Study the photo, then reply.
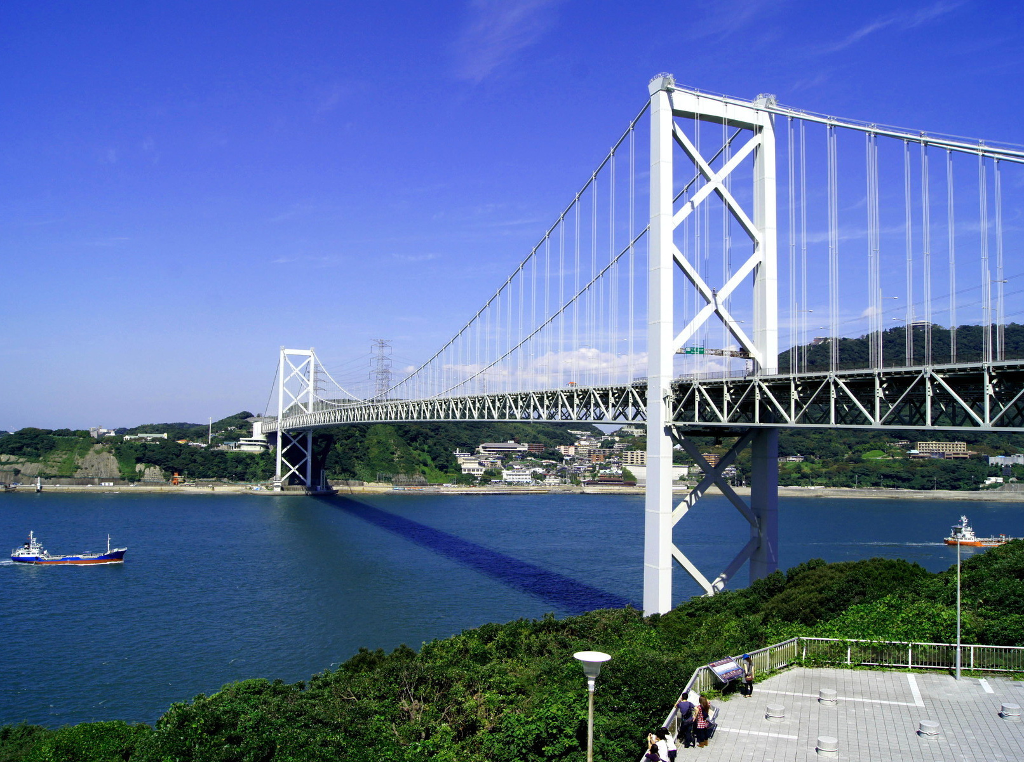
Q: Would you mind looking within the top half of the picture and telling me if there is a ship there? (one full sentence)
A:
No, I see no ship within the top half of the picture.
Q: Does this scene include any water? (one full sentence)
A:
Yes, water can be seen from above here.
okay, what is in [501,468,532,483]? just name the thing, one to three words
building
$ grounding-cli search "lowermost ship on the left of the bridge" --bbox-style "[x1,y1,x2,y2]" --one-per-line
[11,529,125,562]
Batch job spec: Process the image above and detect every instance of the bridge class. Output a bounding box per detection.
[261,69,1024,613]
